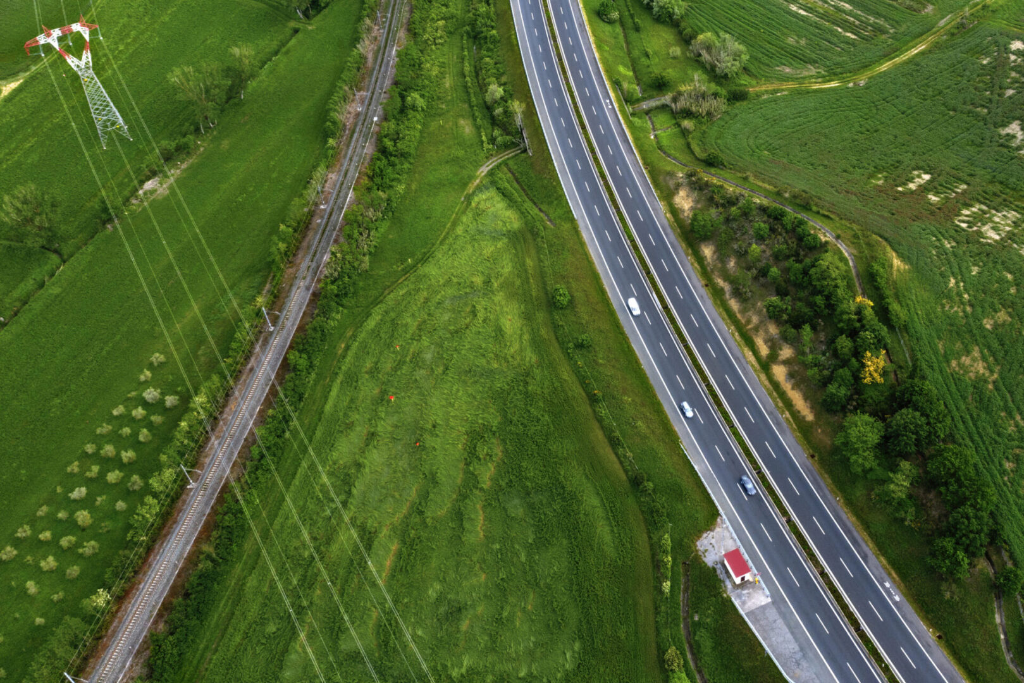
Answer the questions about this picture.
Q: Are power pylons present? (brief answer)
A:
Yes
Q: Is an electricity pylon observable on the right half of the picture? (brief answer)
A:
No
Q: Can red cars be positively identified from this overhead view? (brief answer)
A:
No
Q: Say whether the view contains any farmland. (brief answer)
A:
Yes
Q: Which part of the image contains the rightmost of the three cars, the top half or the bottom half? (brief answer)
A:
bottom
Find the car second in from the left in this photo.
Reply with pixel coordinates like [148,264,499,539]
[680,399,696,420]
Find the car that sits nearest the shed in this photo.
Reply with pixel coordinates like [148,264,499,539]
[738,471,760,498]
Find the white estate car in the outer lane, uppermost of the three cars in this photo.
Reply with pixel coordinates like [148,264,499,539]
[627,297,643,317]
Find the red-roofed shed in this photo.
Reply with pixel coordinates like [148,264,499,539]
[720,549,751,584]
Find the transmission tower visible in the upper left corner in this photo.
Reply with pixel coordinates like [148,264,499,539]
[24,16,135,148]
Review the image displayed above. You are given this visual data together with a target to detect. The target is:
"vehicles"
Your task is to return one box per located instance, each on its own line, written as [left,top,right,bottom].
[680,399,696,420]
[627,297,643,317]
[738,471,760,498]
